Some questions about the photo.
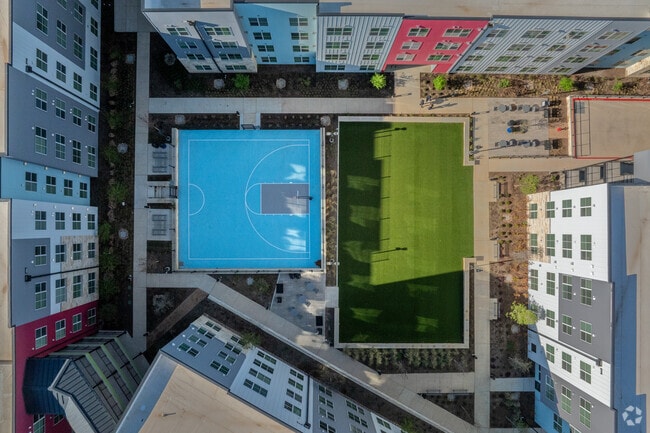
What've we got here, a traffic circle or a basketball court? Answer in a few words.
basketball court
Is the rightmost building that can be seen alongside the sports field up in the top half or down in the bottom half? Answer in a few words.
bottom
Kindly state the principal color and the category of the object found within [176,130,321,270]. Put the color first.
blue basketball court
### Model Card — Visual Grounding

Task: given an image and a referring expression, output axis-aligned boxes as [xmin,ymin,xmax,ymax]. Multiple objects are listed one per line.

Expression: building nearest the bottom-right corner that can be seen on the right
[526,182,650,433]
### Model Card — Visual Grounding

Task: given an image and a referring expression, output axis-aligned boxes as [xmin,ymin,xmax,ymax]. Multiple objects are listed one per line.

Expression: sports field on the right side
[340,121,474,343]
